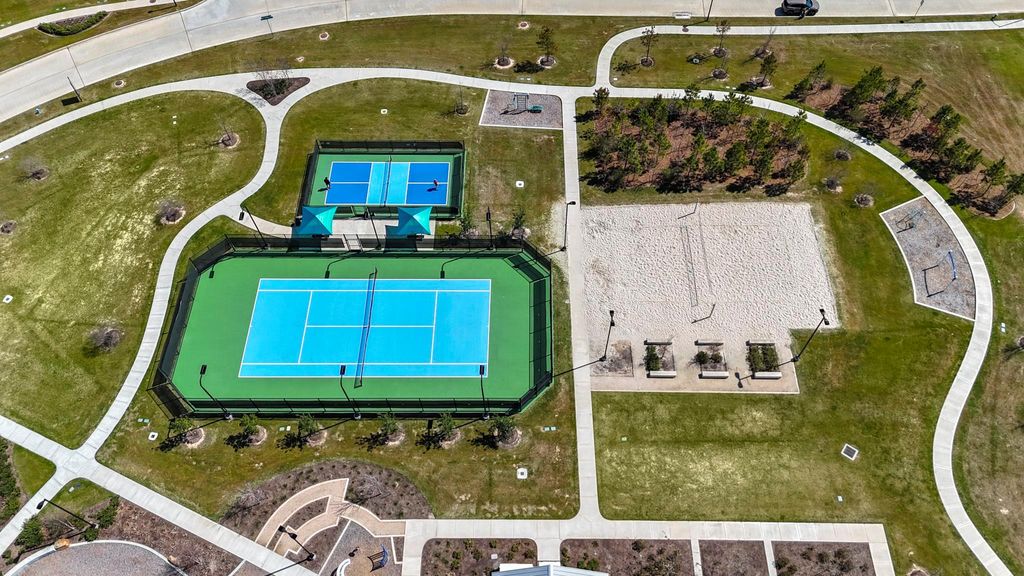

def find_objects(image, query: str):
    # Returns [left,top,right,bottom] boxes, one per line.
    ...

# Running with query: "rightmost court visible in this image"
[580,203,839,336]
